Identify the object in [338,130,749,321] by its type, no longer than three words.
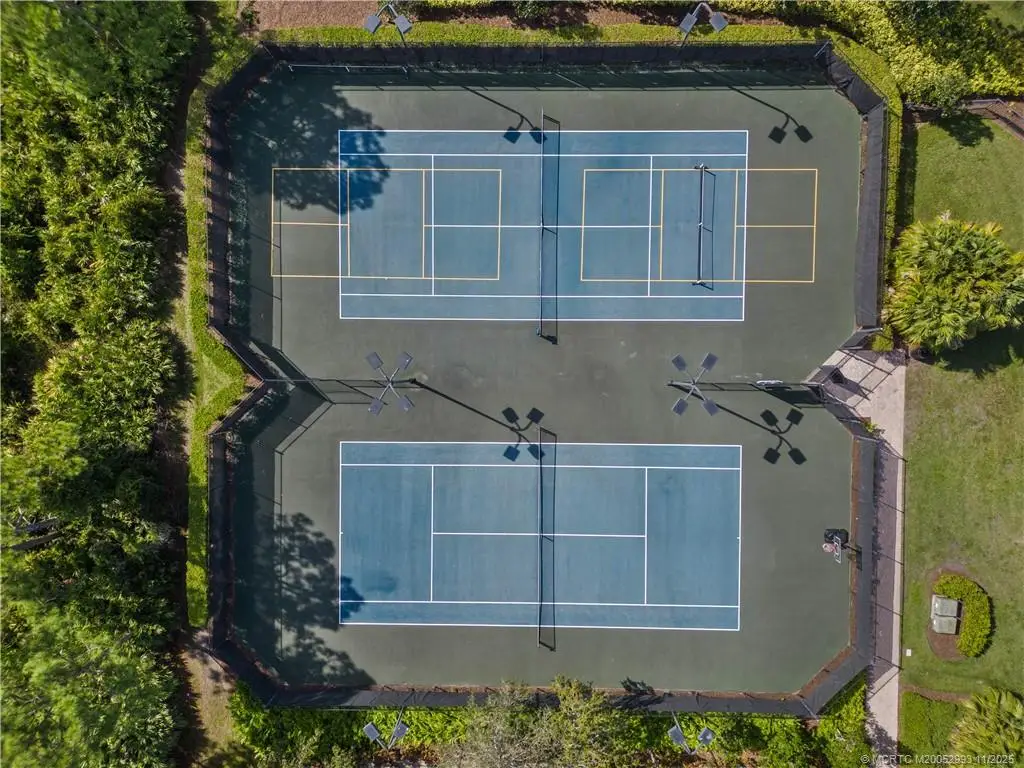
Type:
tennis court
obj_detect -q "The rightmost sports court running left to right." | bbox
[582,170,817,281]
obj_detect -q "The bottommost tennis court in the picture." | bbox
[339,441,743,631]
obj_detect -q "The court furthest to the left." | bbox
[272,169,500,279]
